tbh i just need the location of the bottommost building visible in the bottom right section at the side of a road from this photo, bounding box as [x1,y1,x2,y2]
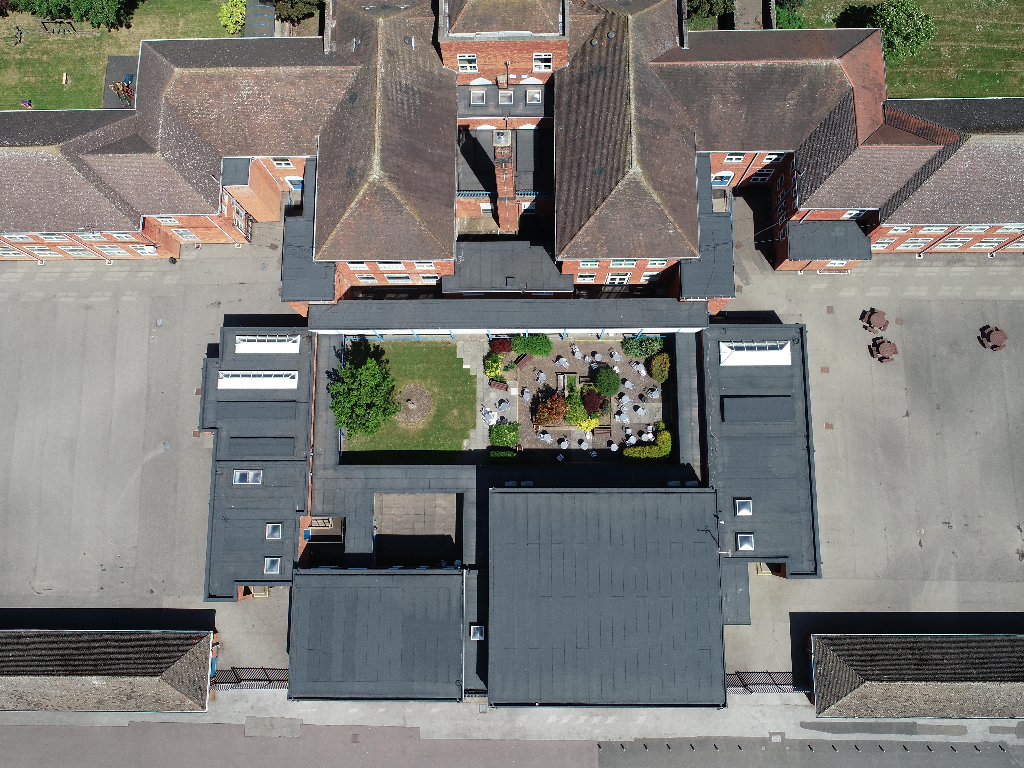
[803,632,1024,720]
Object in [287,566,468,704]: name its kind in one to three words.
building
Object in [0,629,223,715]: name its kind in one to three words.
building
